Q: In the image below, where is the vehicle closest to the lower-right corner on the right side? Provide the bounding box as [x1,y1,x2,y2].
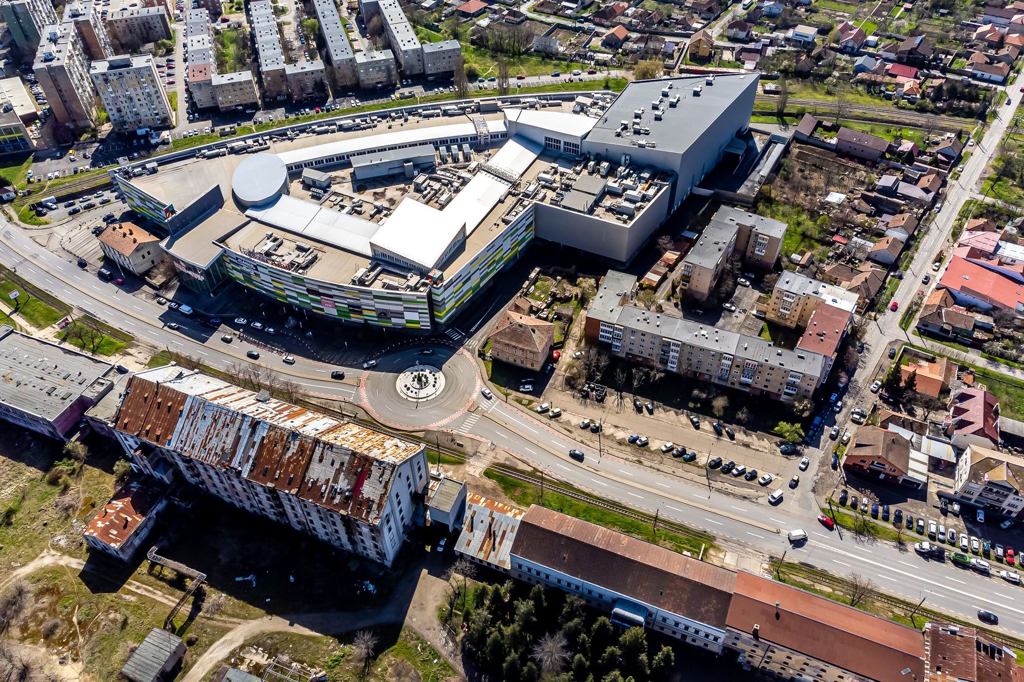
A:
[978,612,998,624]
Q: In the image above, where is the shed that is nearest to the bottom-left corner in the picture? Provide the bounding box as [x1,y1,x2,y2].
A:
[121,627,188,682]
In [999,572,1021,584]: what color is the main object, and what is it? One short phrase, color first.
white vehicle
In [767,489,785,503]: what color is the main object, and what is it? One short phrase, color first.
white vehicle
